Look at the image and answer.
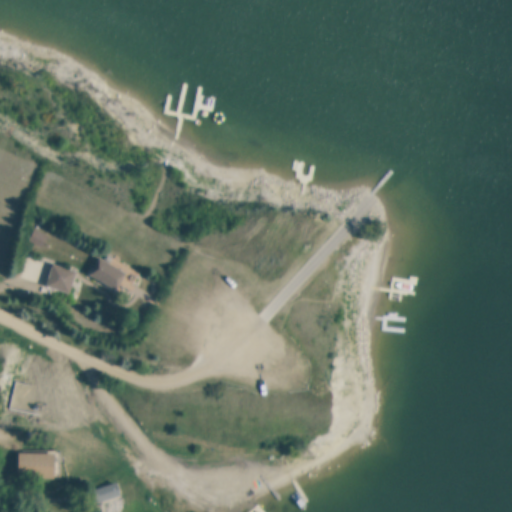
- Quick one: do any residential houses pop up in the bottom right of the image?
No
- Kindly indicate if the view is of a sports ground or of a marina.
marina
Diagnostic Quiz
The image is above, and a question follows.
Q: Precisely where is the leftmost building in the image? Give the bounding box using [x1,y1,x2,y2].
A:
[18,454,54,480]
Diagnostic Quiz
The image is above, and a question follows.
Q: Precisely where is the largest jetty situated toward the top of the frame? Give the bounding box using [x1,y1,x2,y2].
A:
[164,84,215,142]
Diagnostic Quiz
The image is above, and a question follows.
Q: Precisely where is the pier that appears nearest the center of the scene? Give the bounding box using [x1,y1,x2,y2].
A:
[292,160,316,195]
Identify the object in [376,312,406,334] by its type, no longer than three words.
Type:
pier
